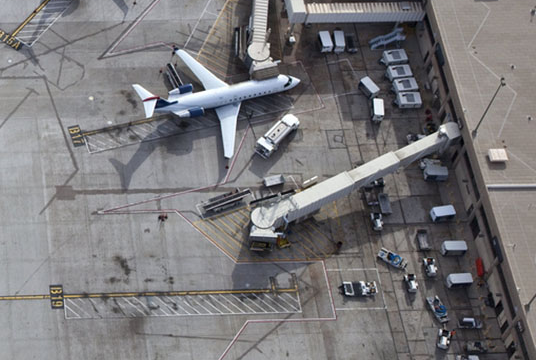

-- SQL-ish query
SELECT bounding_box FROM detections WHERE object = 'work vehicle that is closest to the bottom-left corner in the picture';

[203,190,250,213]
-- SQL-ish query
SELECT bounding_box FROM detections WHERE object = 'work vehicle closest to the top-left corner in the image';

[167,59,187,89]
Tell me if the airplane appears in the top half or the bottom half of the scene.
top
